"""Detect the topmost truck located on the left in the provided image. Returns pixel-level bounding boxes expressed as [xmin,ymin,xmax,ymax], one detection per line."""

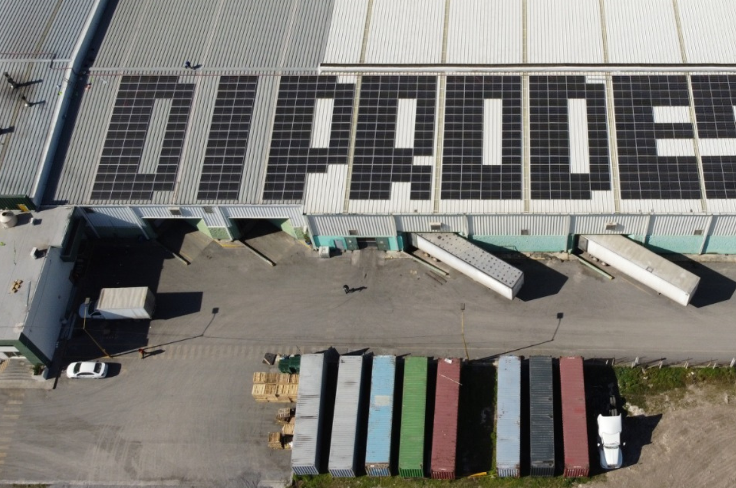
[77,288,153,319]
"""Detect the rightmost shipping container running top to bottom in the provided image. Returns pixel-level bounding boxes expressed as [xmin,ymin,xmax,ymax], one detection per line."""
[560,357,589,475]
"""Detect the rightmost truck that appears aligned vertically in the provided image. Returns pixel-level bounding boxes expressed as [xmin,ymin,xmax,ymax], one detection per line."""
[595,390,623,471]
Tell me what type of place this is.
industrial area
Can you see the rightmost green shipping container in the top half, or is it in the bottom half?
bottom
